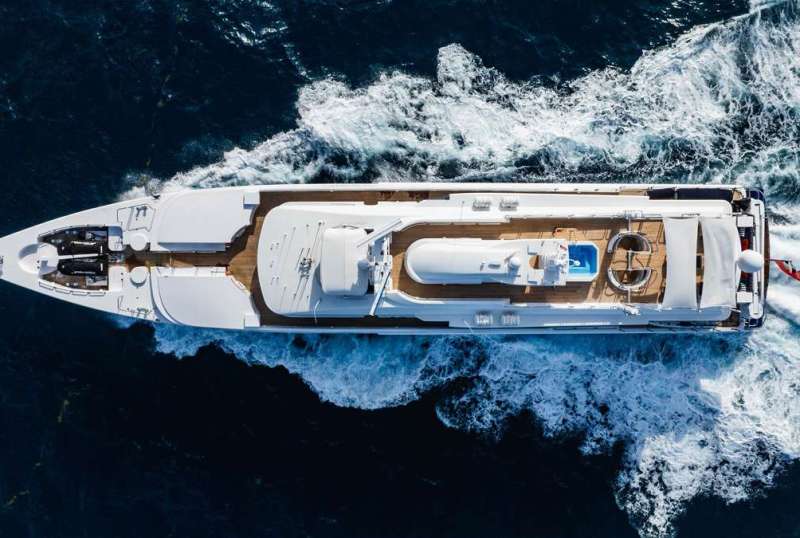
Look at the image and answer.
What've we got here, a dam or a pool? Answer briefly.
pool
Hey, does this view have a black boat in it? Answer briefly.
Yes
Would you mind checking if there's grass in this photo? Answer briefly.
No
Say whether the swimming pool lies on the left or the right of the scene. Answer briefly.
right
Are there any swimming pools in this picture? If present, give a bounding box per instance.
[566,238,602,283]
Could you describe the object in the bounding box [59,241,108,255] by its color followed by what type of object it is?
black boat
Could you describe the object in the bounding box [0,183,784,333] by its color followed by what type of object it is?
white boat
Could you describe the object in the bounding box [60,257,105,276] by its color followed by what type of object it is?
black boat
